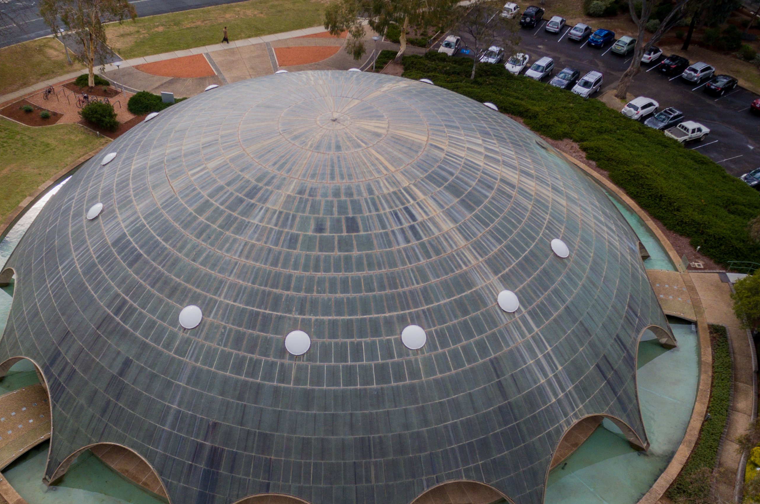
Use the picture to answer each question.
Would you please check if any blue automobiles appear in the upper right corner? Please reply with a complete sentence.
Yes, the scene does show a blue automobile in the upper right corner.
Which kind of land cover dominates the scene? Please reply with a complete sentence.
The scene is dominated by buildings.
